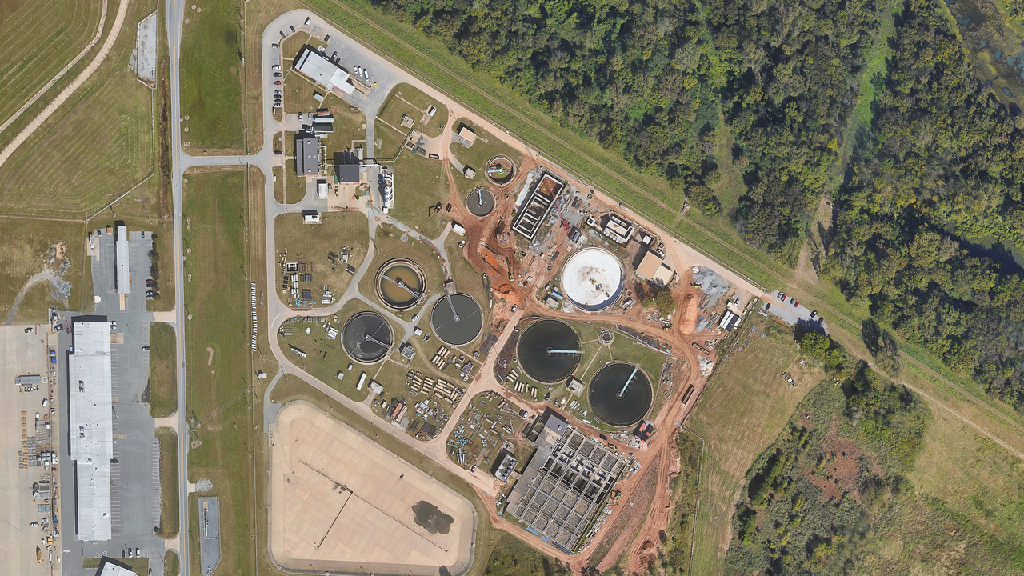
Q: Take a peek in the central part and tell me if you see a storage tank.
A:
Yes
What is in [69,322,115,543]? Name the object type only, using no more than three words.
building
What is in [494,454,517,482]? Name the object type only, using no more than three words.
building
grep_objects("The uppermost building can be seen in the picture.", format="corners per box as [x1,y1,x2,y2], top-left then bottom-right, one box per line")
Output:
[295,46,355,95]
